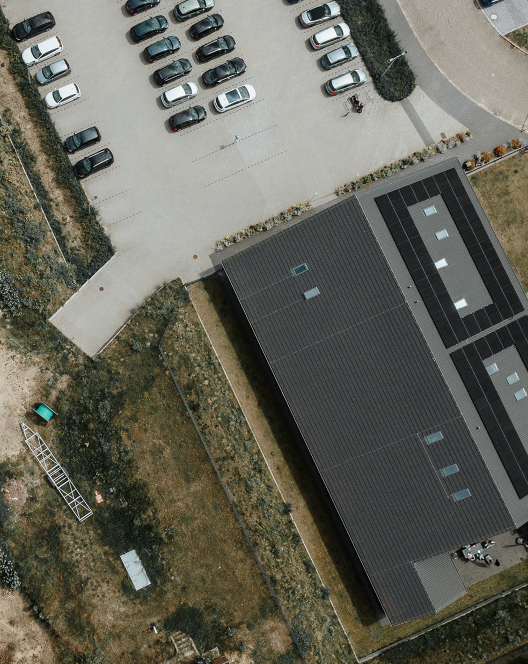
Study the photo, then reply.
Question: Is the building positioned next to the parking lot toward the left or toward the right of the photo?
right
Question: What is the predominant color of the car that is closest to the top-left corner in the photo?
black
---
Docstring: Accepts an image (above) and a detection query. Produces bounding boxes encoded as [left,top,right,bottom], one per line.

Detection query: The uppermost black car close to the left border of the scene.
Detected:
[11,9,56,42]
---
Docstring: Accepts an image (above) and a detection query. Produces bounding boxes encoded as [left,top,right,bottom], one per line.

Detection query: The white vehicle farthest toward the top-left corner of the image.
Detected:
[22,36,62,67]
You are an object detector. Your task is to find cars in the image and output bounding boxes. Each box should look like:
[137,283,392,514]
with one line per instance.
[151,58,192,87]
[298,0,339,31]
[321,68,367,99]
[72,147,116,179]
[212,83,257,114]
[309,22,348,52]
[172,0,216,25]
[318,43,358,72]
[11,9,56,42]
[34,58,72,87]
[142,35,182,65]
[62,125,102,154]
[42,81,81,110]
[188,12,224,41]
[160,81,199,109]
[201,56,248,88]
[123,0,161,19]
[127,14,170,45]
[22,36,62,67]
[167,105,208,133]
[194,34,237,65]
